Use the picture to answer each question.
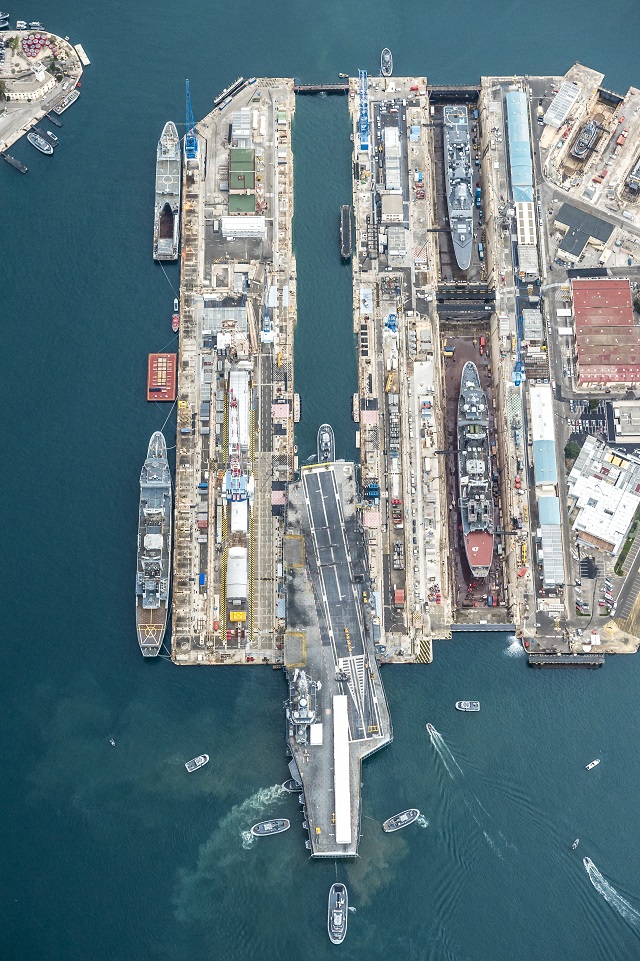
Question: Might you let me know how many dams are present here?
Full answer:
Not a single dam can be seen.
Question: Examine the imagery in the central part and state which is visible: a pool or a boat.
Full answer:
There is a boat in the central part.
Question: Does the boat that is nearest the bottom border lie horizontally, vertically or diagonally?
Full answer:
The boat that is nearest the bottom border has been laid out vertically relative to the frame.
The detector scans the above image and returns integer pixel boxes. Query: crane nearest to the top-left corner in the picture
[182,80,200,165]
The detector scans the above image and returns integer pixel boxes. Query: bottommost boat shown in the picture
[327,883,349,943]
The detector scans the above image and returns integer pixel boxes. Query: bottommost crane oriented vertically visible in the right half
[510,299,530,395]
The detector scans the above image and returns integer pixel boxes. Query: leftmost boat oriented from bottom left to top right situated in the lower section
[183,754,210,775]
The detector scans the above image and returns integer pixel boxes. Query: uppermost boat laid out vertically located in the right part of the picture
[380,48,392,77]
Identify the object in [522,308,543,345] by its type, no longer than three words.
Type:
building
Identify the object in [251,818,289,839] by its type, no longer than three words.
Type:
boat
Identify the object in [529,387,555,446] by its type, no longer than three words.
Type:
building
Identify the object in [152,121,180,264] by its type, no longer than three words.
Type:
ship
